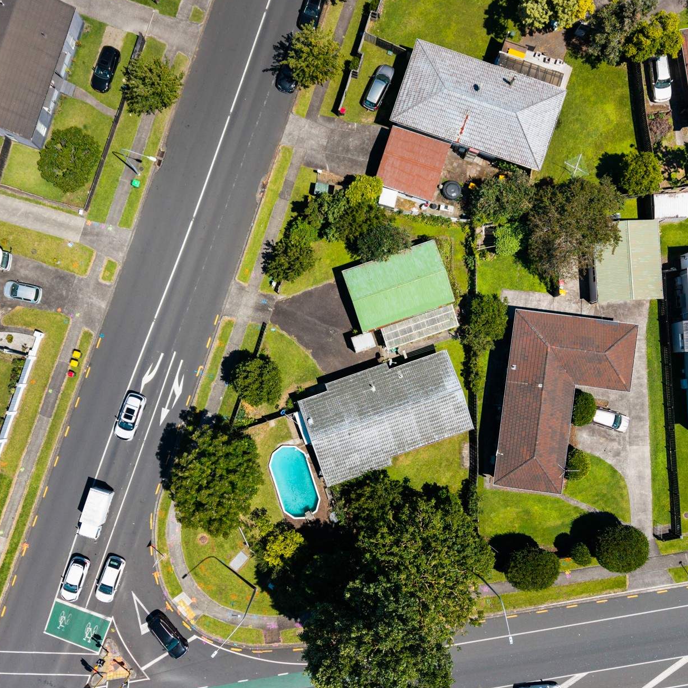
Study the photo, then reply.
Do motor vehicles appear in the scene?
Yes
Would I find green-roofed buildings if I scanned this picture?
Yes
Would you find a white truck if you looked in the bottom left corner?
Yes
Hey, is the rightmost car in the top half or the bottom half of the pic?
top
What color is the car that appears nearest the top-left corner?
black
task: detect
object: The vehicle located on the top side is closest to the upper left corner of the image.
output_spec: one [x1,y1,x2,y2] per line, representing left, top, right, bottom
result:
[89,44,123,96]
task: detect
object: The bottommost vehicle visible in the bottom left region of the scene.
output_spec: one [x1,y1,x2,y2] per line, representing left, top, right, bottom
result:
[147,606,188,660]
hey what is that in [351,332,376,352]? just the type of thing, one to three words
shed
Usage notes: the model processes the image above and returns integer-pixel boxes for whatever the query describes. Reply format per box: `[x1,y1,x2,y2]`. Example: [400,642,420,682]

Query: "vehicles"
[75,477,117,537]
[296,0,325,29]
[95,553,128,602]
[648,55,676,105]
[114,390,149,441]
[584,407,630,433]
[275,59,299,96]
[0,243,17,269]
[60,552,94,602]
[147,606,188,660]
[3,278,46,305]
[516,679,562,688]
[362,64,393,115]
[89,44,123,96]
